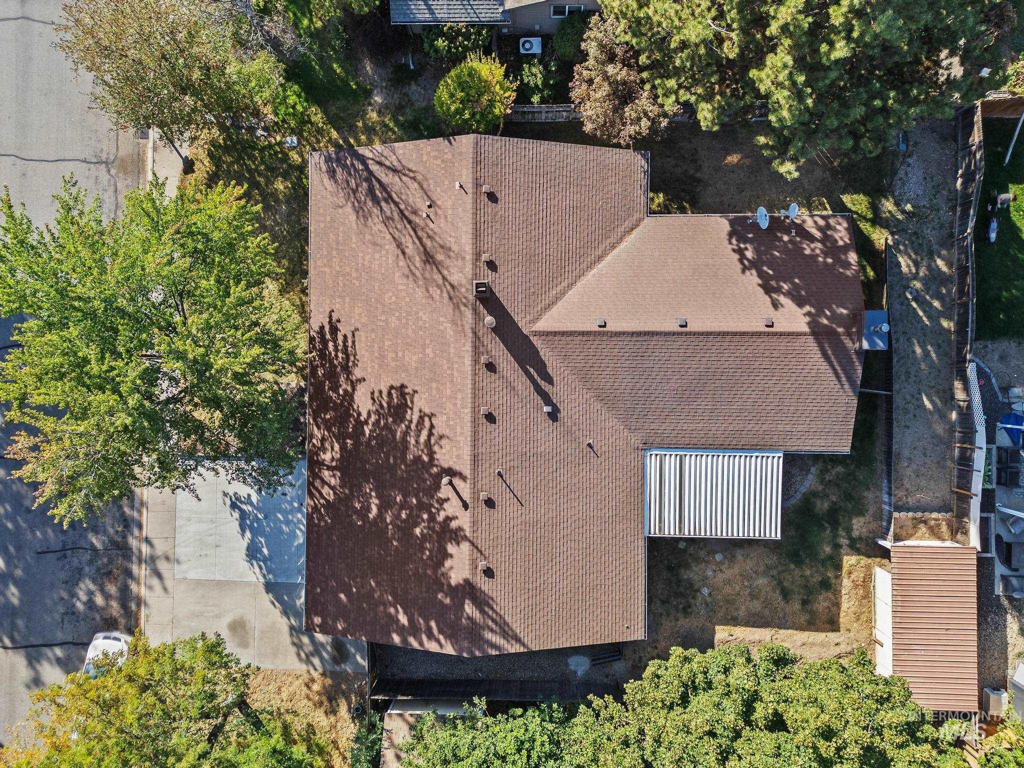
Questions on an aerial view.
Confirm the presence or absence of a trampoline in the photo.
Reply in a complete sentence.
No, the frame has no trampoline in it.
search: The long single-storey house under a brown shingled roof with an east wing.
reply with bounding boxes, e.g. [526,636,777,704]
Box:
[302,134,892,655]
